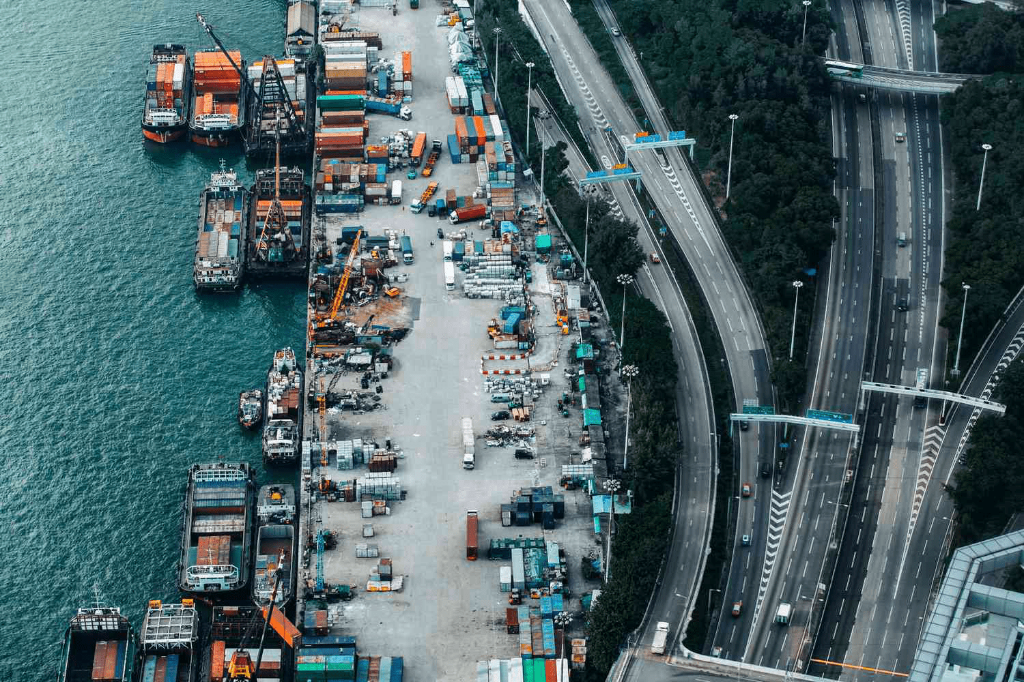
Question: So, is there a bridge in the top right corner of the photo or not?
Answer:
Yes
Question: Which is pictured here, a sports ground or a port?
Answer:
port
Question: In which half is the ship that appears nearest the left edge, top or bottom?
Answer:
bottom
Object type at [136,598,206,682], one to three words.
ship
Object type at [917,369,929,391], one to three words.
vehicle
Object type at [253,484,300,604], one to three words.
ship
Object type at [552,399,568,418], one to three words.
work vehicle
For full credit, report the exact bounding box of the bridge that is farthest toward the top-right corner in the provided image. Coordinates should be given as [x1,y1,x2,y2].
[806,51,1023,109]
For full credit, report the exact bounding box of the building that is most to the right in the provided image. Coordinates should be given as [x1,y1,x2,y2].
[906,528,1024,682]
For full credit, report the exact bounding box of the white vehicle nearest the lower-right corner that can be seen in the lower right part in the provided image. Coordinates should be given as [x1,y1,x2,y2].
[777,597,793,623]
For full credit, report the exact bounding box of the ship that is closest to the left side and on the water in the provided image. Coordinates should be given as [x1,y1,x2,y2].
[47,569,144,682]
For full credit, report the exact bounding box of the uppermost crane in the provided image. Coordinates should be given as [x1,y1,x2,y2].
[314,229,363,328]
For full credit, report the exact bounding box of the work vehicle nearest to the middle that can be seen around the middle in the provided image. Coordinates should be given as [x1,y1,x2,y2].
[482,319,502,336]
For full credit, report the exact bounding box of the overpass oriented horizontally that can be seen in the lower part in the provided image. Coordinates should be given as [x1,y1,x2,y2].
[607,639,864,682]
